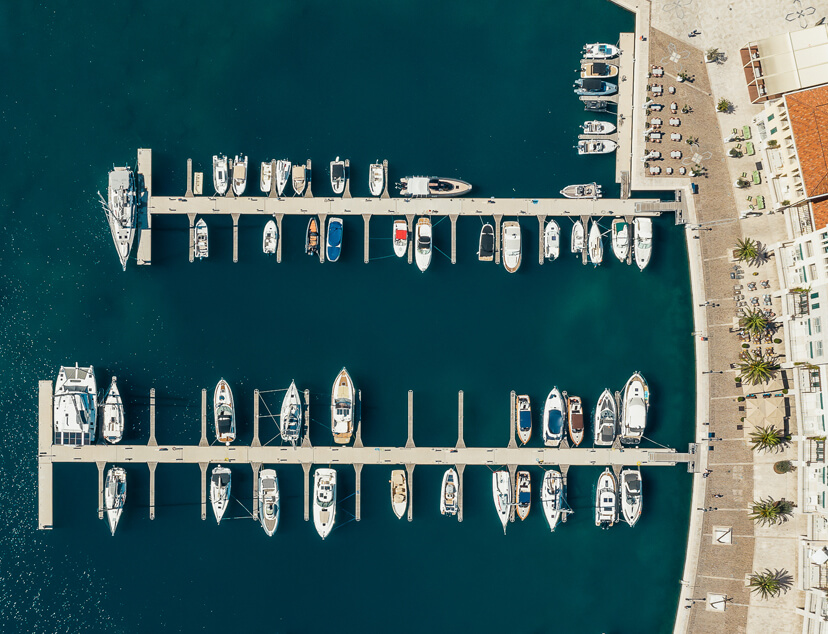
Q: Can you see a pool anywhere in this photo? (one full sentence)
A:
No, I find no pool anywhere in the image.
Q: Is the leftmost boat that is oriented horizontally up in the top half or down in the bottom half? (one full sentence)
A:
The leftmost boat that is oriented horizontally sits in the top half of the picture.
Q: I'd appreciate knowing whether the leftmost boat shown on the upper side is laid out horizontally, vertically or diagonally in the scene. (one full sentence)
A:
The leftmost boat shown on the upper side is oriented vertically.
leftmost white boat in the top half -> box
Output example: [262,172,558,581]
[97,163,137,271]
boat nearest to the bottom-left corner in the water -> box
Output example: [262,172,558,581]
[99,468,127,536]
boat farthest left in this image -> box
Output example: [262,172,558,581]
[52,363,97,446]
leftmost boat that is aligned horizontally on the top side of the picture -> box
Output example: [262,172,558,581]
[392,175,471,197]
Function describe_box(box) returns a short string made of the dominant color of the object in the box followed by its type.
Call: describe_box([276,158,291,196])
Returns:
white boat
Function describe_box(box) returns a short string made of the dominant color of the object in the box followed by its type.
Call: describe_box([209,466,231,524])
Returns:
white boat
